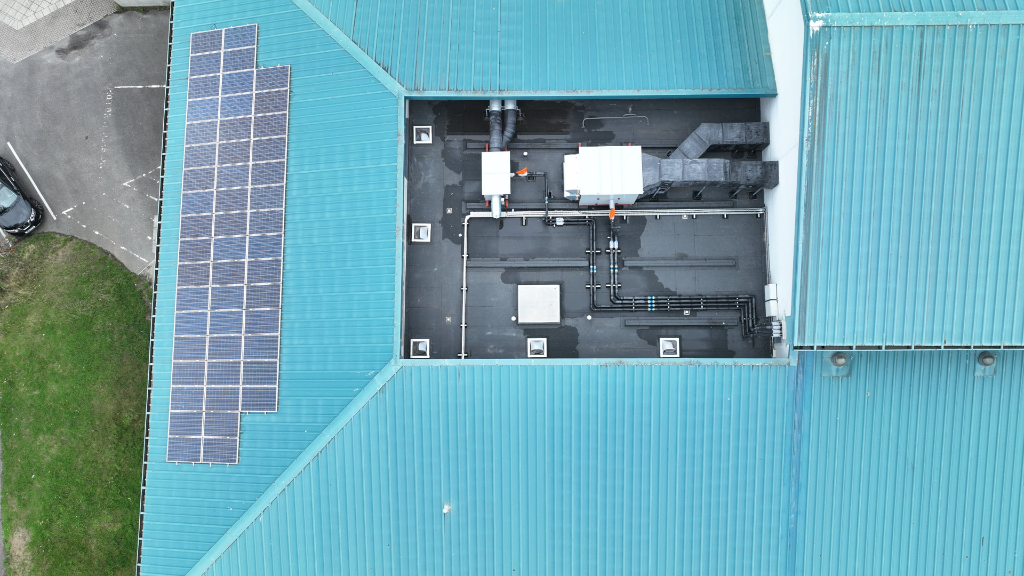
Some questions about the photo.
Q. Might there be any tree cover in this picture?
No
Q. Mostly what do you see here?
buildings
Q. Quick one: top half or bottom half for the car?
top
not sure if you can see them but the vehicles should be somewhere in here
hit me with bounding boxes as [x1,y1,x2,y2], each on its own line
[0,155,45,237]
